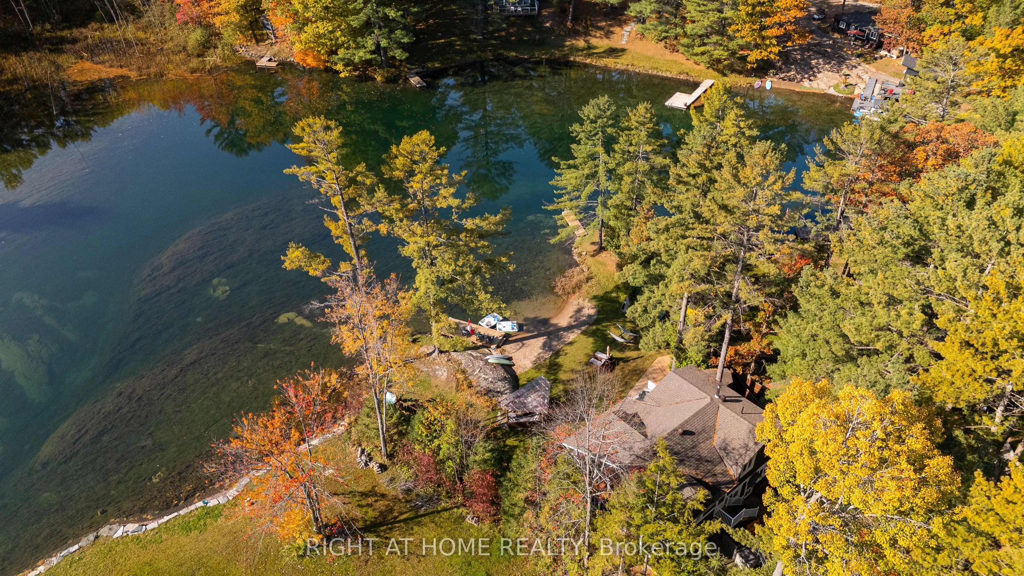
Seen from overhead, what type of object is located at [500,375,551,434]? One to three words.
gazebo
